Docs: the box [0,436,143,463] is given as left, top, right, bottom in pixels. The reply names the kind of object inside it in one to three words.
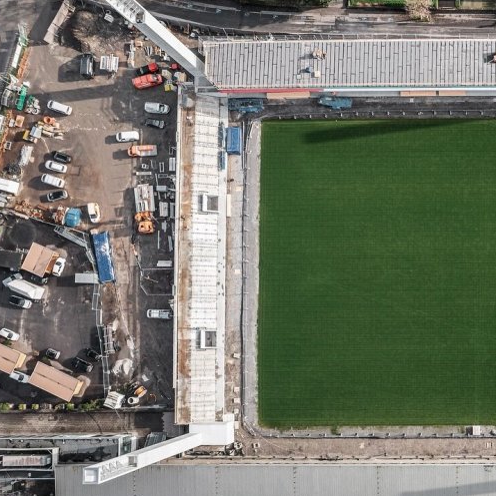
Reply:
building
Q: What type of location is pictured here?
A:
sports ground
